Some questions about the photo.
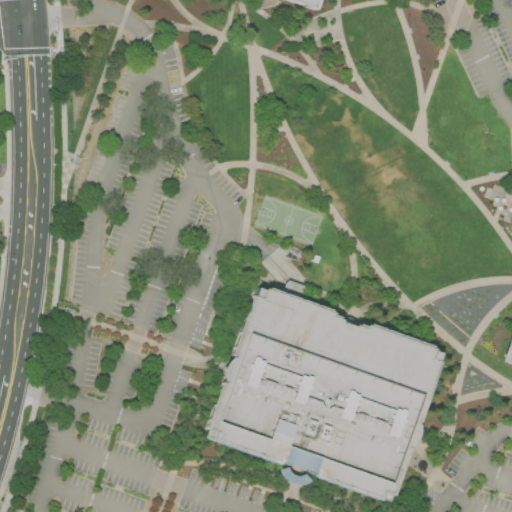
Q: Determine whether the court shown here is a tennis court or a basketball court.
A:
basketball court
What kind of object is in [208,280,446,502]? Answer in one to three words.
building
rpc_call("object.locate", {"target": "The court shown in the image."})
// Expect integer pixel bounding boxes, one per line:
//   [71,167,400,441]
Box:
[256,195,322,245]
